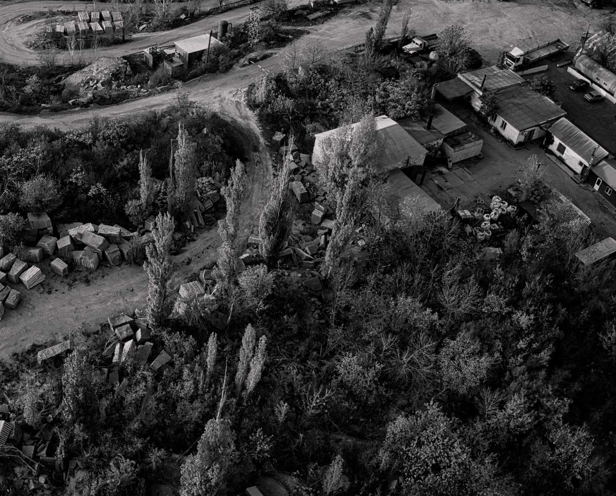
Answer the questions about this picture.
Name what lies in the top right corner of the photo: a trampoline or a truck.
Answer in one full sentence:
The feature located in the top right corner of the photo is a truck.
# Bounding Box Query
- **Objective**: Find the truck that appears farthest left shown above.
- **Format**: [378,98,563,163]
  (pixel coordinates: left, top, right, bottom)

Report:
[403,28,450,52]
